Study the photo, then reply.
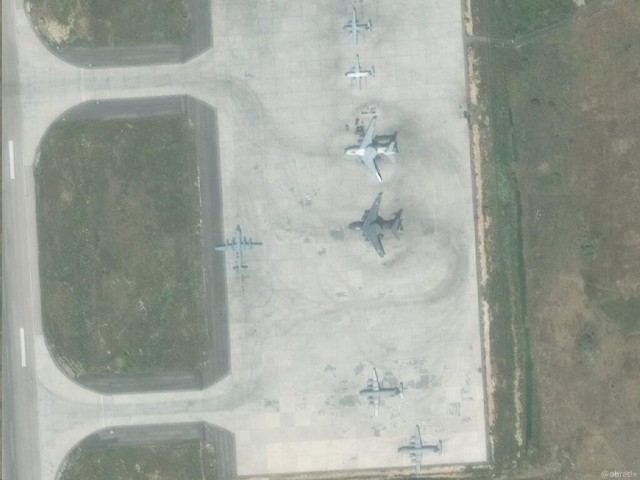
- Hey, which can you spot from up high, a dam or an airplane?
airplane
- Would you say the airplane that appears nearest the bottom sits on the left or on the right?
right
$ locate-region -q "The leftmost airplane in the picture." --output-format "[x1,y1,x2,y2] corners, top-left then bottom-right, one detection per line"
[214,226,262,273]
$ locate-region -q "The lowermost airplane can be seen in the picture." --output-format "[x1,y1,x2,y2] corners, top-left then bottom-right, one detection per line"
[398,427,447,473]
